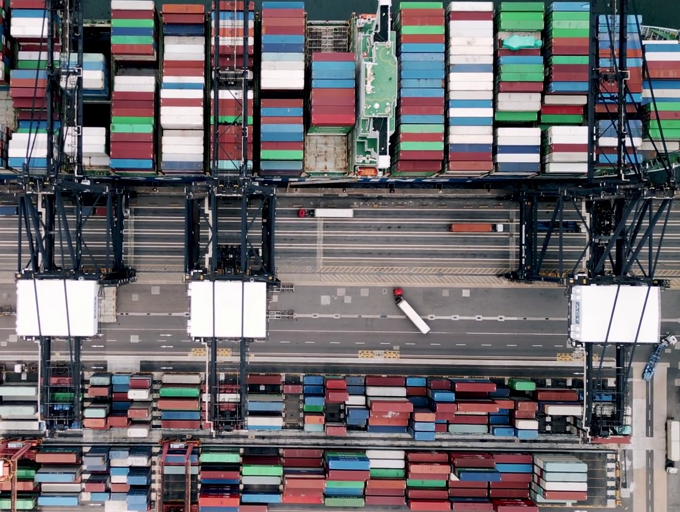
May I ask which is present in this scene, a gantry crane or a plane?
gantry crane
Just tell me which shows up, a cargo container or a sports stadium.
cargo container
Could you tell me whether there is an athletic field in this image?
No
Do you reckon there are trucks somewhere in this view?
Yes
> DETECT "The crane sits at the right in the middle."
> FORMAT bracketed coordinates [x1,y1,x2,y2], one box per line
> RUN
[497,0,680,452]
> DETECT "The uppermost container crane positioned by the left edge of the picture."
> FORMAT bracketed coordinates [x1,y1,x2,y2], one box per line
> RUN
[15,0,138,446]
